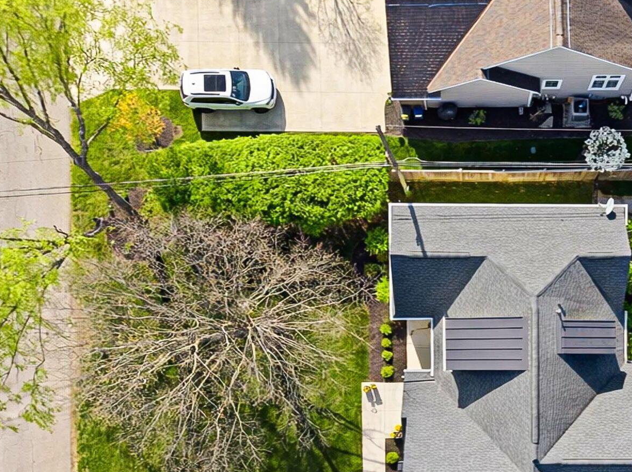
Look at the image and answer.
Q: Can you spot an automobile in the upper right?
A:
No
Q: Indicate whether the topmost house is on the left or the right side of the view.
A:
right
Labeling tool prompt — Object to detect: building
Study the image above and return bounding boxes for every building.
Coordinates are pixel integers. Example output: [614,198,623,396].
[386,0,632,121]
[388,201,632,472]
